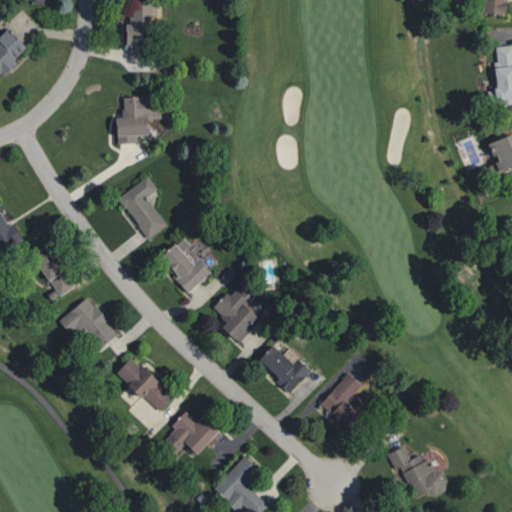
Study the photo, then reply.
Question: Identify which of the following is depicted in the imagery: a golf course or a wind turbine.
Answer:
golf course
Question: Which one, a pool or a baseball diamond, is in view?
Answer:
pool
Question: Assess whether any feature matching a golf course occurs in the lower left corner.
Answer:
Yes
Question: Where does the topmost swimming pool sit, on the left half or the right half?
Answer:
right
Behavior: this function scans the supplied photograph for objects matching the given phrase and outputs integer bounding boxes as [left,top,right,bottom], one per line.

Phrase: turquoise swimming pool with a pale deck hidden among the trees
[259,258,279,290]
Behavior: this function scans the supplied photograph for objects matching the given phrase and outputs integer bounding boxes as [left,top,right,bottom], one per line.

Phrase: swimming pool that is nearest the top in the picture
[456,136,486,166]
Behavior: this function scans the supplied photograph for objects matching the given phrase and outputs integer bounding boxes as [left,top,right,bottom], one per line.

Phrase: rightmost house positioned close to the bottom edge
[389,447,447,501]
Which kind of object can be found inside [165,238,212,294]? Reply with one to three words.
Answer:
house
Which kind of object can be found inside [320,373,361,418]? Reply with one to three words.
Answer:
house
